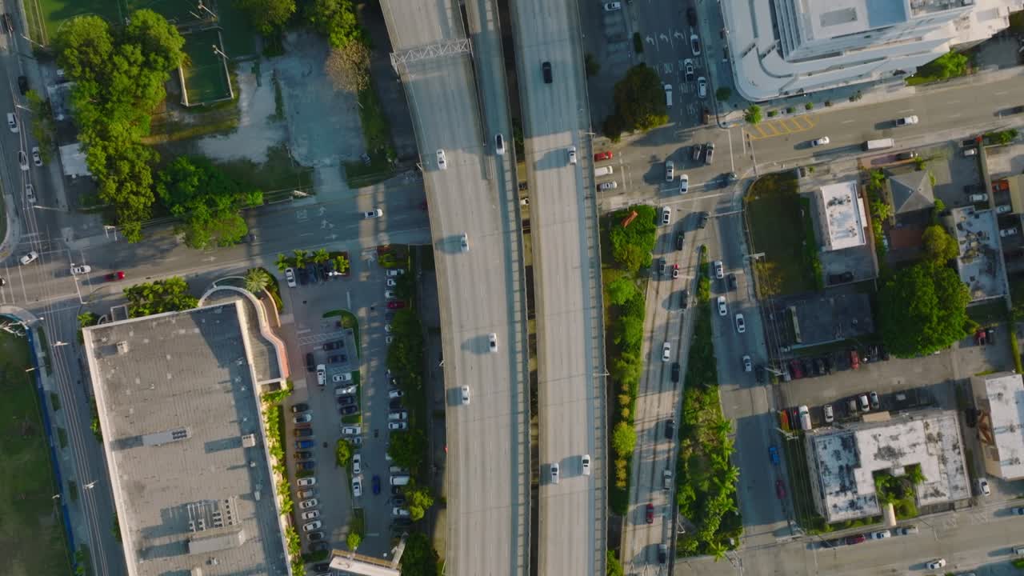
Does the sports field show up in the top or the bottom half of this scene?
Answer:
top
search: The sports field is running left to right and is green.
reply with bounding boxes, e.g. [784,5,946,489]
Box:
[46,0,218,50]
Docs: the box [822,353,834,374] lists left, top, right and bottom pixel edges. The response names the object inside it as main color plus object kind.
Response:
black vehicle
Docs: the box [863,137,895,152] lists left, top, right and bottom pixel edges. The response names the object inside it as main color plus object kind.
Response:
white vehicle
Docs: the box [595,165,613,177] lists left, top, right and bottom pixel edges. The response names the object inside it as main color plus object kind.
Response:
white vehicle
